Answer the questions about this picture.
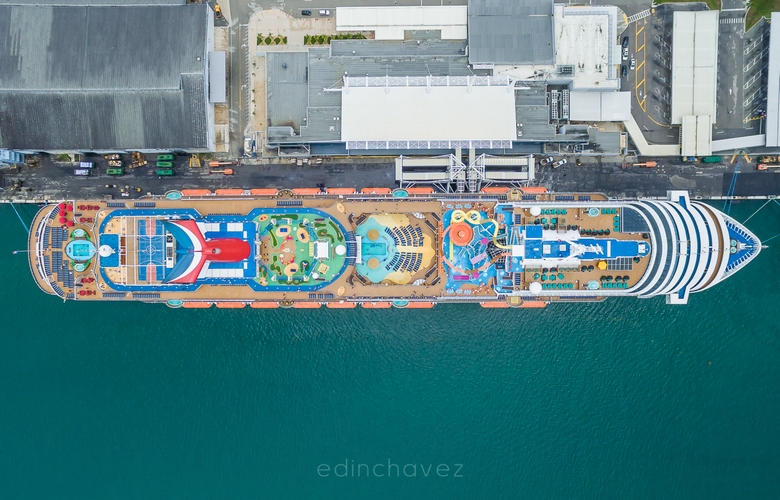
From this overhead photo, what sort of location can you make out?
port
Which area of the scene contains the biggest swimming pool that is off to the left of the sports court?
left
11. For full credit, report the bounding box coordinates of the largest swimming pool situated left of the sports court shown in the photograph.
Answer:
[66,238,96,263]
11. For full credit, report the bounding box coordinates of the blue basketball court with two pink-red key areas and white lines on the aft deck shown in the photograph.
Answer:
[138,220,166,282]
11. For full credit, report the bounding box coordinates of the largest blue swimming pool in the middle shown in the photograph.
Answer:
[362,231,395,269]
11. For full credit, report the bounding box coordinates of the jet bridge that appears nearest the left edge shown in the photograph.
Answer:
[395,149,465,194]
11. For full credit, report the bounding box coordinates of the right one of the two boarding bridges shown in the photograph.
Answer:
[465,149,535,193]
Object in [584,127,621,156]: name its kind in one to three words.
building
